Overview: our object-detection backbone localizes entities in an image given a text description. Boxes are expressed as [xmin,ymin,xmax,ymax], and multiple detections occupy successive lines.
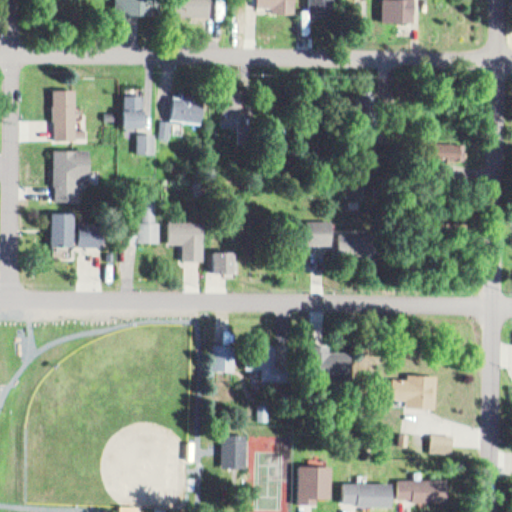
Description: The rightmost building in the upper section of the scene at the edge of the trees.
[437,144,462,162]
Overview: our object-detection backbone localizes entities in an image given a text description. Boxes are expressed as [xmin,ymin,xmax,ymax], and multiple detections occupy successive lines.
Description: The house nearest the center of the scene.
[212,253,236,276]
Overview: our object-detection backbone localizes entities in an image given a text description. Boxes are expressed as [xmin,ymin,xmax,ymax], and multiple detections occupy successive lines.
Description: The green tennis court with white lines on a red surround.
[248,436,288,512]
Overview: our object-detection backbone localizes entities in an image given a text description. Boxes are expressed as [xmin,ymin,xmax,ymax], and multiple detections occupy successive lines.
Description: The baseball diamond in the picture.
[100,422,187,505]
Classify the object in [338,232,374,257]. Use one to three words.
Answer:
house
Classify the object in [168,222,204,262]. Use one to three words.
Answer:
house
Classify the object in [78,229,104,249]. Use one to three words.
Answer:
building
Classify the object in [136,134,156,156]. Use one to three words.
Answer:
building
